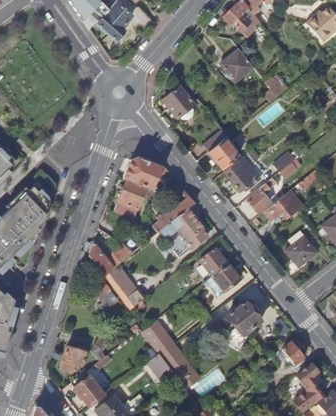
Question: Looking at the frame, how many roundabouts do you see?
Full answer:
My tally gives 1 roundabout in this photo.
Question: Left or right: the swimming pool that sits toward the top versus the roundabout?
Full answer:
Relative to the roundabout, the swimming pool that sits toward the top is on the right.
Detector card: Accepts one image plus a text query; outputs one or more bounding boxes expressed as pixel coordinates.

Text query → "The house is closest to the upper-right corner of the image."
[306,4,336,41]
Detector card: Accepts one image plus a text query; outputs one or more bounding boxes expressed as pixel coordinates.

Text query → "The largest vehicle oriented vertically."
[52,280,66,310]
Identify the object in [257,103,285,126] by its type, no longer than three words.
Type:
swimming pool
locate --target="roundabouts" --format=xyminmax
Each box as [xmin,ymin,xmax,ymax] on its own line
[89,53,168,157]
